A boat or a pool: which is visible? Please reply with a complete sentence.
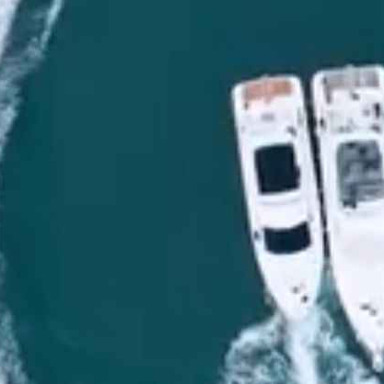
I can see a boat in this picture.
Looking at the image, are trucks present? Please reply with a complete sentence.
No, the picture doesn't show any truck.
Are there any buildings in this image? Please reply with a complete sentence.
No, I can see no building in this picture.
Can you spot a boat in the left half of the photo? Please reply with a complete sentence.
No, looking in the left half of the photo, there is no boat.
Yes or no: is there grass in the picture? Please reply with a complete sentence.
No, no grass is visible.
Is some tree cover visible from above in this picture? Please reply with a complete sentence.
No, no tree cover is visible.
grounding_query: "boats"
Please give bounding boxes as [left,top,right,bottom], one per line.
[313,65,384,370]
[234,75,323,325]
